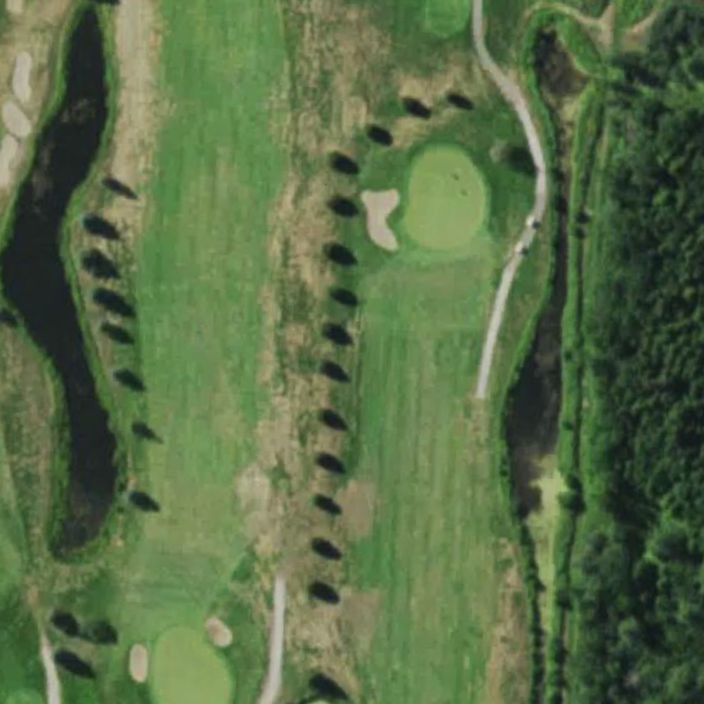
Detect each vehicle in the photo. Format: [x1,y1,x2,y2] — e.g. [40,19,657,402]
[527,217,533,225]
[515,243,522,252]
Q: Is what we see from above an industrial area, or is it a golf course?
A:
golf course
